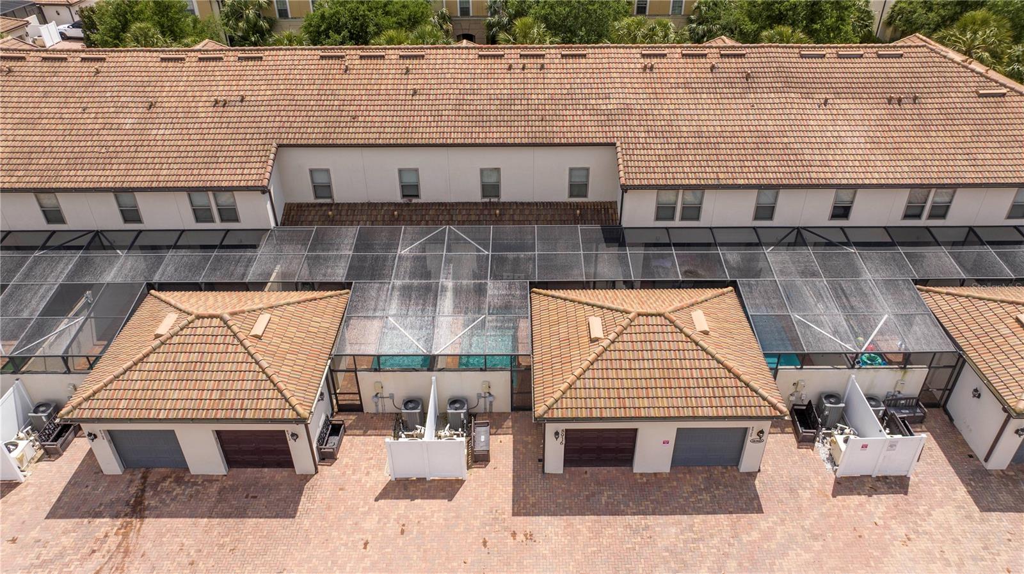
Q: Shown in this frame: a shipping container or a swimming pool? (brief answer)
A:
swimming pool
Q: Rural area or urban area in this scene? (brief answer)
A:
urban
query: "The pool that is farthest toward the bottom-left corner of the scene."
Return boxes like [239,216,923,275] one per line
[365,320,435,371]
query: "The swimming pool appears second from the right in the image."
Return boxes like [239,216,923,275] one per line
[452,317,522,394]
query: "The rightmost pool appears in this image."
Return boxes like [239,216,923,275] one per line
[765,354,810,376]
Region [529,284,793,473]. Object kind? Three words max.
building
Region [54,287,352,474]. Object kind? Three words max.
building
